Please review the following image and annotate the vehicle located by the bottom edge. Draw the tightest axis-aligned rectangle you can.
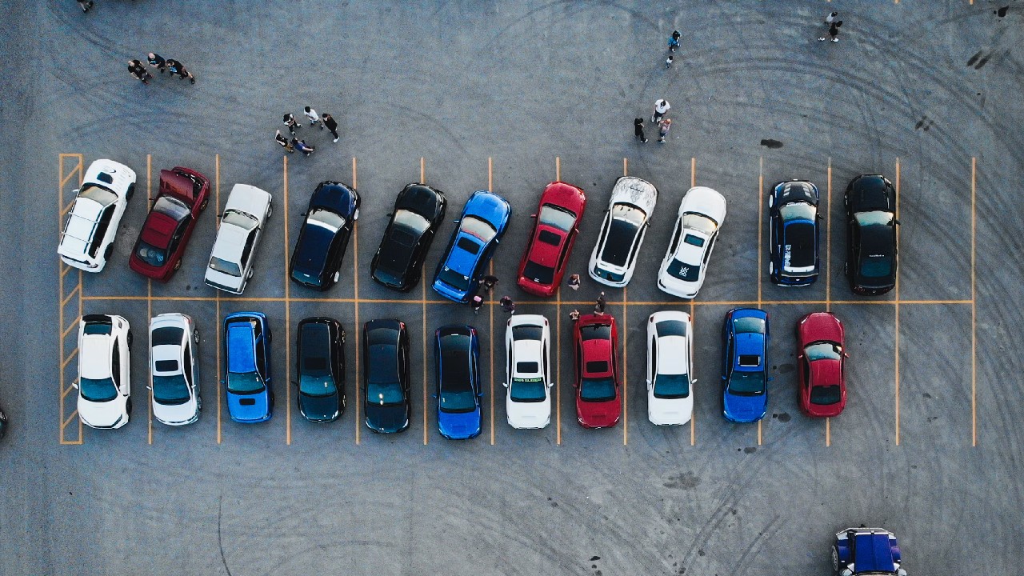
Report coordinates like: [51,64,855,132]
[831,522,905,576]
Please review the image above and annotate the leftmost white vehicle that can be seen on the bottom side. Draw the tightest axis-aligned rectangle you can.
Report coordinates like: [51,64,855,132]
[72,315,133,430]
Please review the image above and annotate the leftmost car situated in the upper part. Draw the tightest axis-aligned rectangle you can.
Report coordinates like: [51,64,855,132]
[58,159,136,274]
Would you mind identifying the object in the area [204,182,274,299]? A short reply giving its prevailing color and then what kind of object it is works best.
white car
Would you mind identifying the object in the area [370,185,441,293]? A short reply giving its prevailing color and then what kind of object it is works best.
black car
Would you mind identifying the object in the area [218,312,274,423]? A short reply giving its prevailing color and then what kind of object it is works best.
blue car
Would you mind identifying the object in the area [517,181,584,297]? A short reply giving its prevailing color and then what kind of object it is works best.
red car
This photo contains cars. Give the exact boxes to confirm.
[794,311,850,419]
[144,312,204,427]
[501,313,556,431]
[370,185,441,293]
[291,315,347,425]
[131,168,210,283]
[58,159,136,274]
[643,310,699,427]
[72,315,133,430]
[569,313,625,430]
[517,181,584,297]
[218,312,274,423]
[288,183,360,290]
[657,186,727,300]
[767,177,825,291]
[720,307,776,424]
[430,324,485,441]
[204,182,274,299]
[831,522,905,576]
[590,177,657,289]
[842,174,903,297]
[357,318,413,434]
[433,190,510,305]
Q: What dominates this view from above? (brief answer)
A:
paved ground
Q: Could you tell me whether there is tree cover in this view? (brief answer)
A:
No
